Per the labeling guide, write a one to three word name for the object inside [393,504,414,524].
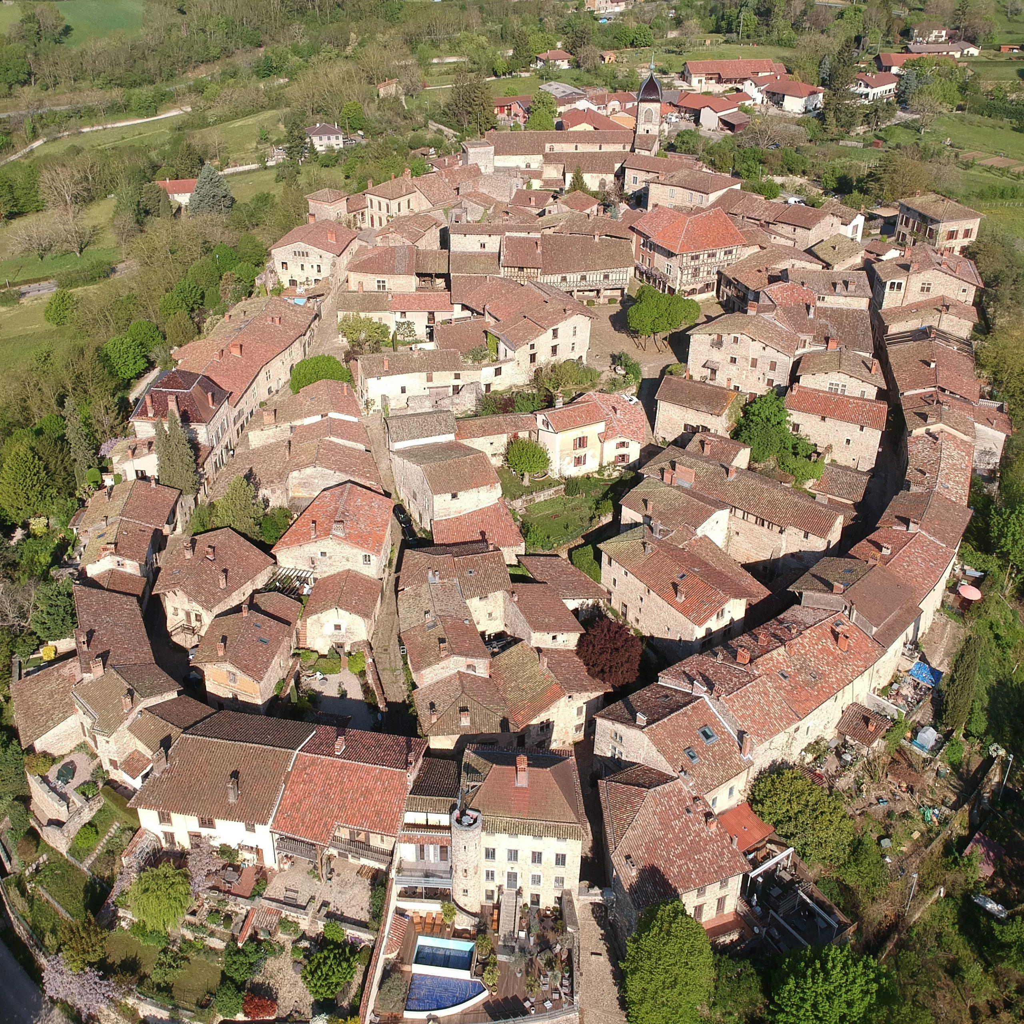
car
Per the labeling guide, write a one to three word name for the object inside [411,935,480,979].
swimming pool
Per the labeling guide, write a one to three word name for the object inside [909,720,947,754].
greenhouse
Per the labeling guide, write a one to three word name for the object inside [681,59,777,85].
house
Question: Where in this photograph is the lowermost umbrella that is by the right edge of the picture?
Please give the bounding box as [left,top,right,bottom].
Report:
[956,584,984,607]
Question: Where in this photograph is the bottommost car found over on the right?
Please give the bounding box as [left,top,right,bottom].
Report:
[617,390,643,402]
